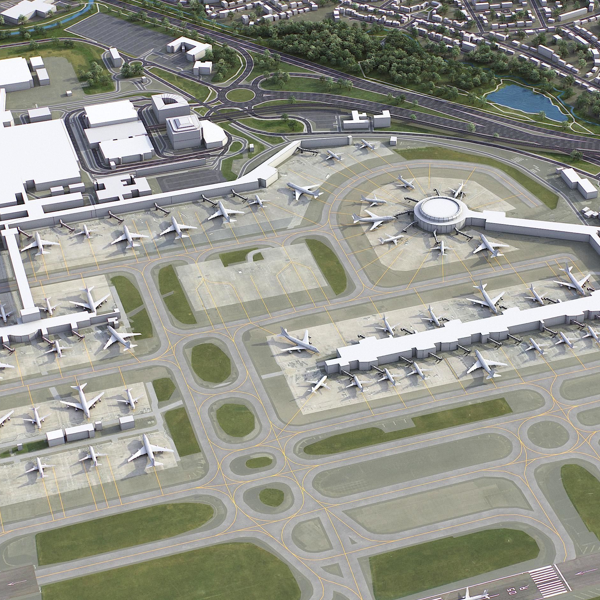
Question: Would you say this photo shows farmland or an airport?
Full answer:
This looks like an airport.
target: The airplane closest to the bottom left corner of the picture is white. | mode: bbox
[25,457,56,479]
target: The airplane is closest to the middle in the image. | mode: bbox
[277,327,319,352]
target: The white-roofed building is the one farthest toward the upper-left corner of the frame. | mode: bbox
[0,0,57,24]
